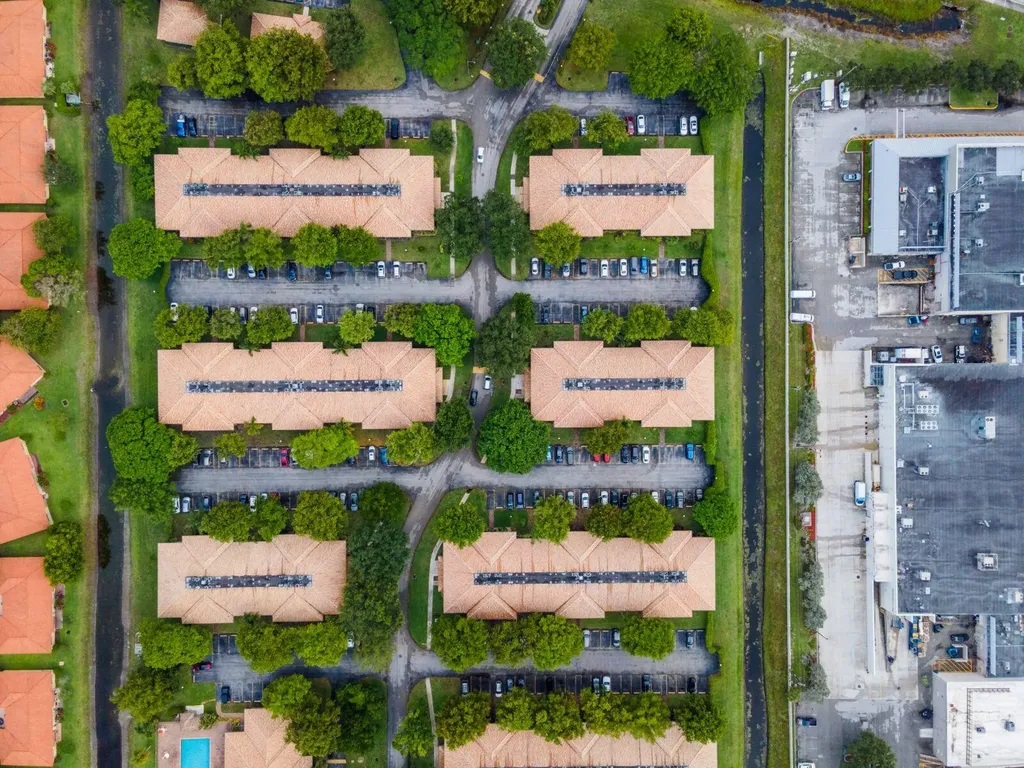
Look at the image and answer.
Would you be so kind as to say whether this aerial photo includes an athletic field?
No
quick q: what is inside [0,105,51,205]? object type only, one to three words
house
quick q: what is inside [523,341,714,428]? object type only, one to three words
building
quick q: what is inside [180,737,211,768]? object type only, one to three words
swimming pool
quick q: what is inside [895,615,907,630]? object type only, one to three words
vehicle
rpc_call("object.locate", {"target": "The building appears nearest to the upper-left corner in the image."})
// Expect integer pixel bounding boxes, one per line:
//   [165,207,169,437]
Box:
[0,1,50,100]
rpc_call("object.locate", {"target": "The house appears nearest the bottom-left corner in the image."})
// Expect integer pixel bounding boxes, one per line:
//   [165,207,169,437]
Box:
[0,668,59,767]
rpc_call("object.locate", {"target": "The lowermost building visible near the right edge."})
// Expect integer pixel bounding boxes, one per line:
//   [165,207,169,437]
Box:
[933,672,1024,768]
